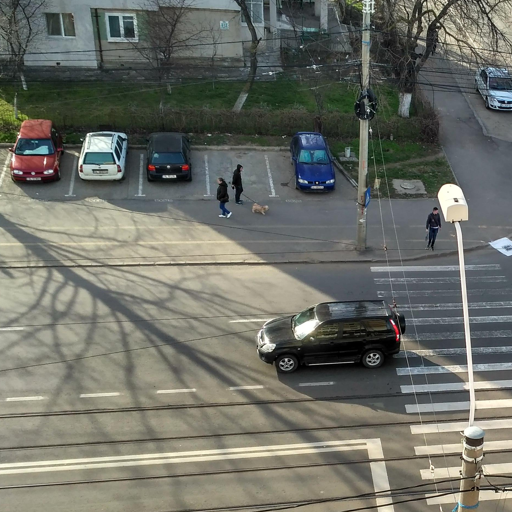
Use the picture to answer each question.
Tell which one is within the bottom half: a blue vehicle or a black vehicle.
black vehicle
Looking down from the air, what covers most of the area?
paved ground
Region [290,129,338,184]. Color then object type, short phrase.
blue car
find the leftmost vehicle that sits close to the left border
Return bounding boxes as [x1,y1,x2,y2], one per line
[8,120,70,178]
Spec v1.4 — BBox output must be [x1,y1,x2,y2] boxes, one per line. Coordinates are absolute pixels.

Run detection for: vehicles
[290,129,338,184]
[476,68,512,108]
[77,126,132,177]
[145,131,195,178]
[8,120,70,178]
[254,295,408,371]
